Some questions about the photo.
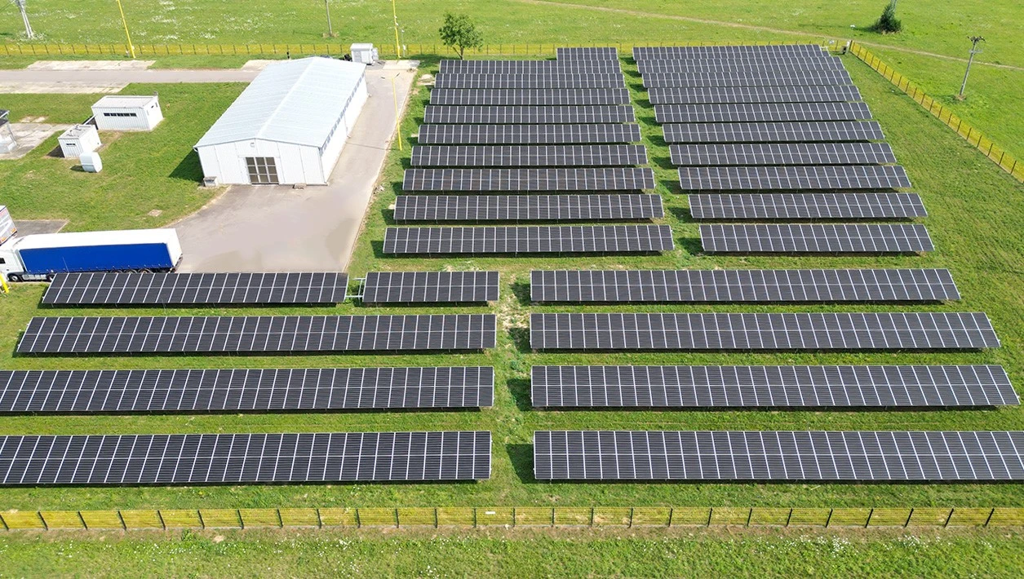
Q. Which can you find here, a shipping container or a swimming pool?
shipping container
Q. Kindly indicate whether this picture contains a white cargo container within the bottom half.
No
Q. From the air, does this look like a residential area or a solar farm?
solar farm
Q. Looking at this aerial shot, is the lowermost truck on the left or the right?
left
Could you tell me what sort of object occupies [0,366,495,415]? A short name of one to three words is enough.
solar array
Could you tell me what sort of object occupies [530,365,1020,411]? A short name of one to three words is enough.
solar array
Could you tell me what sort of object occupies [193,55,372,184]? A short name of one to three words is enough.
barn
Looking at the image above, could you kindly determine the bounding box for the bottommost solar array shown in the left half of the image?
[0,431,493,487]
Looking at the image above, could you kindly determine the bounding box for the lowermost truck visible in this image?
[0,228,182,282]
